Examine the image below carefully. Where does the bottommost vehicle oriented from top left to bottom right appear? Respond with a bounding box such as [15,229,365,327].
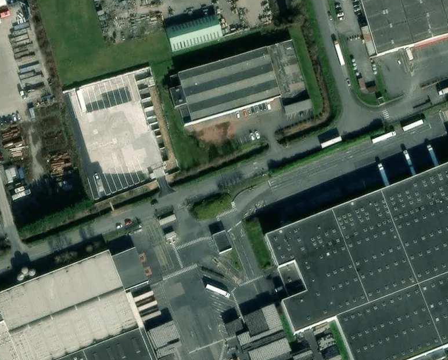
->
[205,281,227,298]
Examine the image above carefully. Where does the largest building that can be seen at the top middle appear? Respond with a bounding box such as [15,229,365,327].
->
[178,45,279,128]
